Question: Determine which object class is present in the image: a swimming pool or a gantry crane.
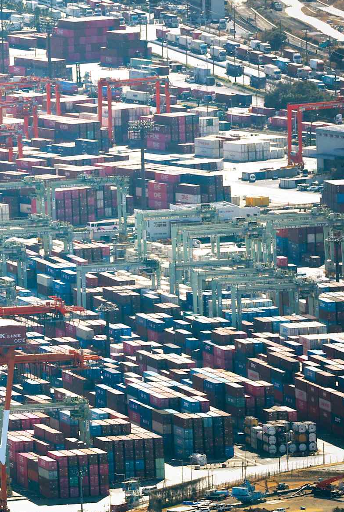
gantry crane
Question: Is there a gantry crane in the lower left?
Yes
